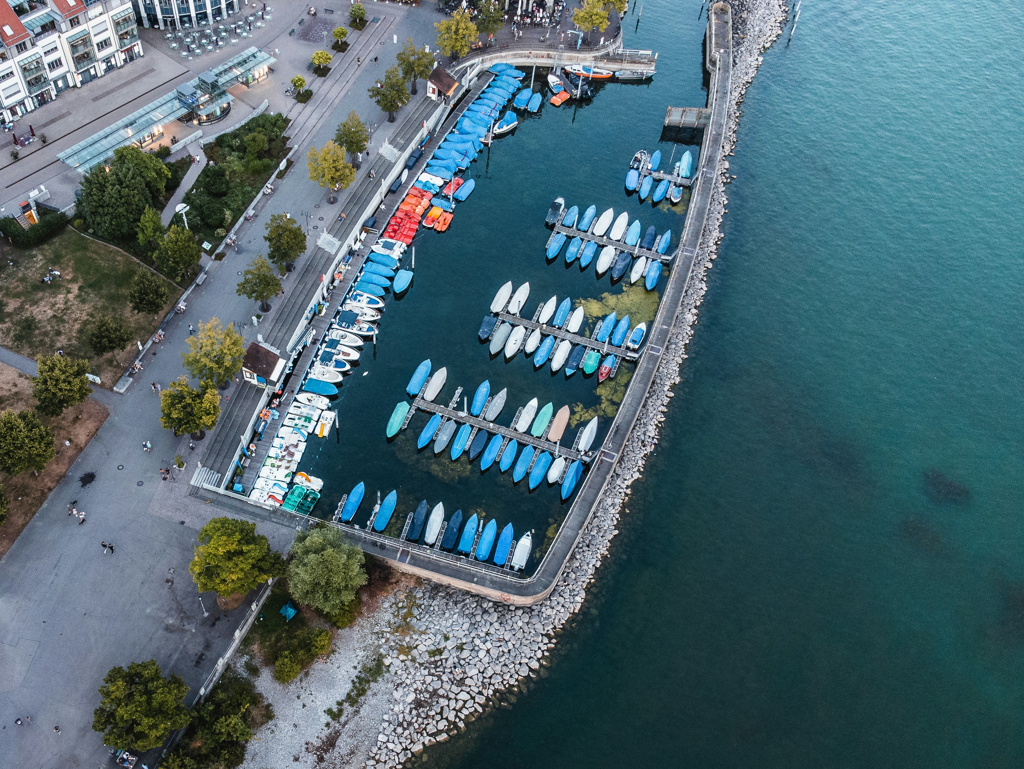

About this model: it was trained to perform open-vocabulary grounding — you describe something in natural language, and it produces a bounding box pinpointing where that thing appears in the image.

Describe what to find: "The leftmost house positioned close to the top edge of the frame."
[0,0,144,123]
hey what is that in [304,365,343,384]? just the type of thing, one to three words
boat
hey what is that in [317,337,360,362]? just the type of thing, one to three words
boat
